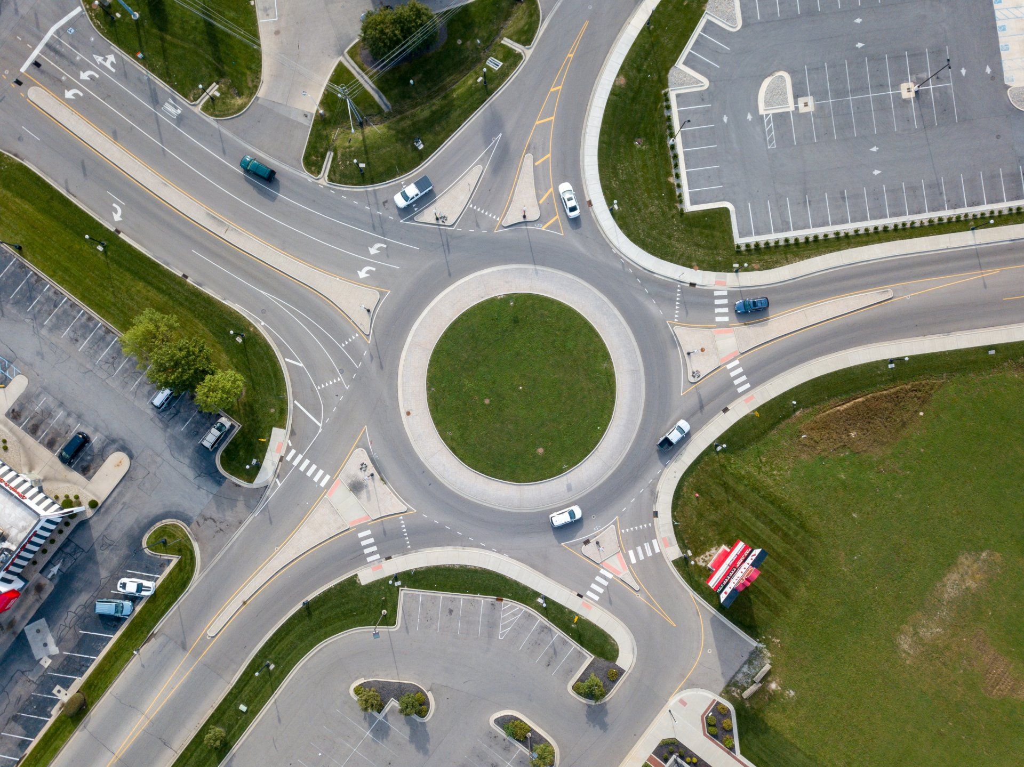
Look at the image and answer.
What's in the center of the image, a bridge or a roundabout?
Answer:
roundabout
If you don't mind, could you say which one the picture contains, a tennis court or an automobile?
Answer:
automobile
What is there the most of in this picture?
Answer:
paved ground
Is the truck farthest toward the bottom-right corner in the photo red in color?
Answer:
No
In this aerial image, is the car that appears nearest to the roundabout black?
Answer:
No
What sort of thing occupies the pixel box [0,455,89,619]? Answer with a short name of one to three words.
building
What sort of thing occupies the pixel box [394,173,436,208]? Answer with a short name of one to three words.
truck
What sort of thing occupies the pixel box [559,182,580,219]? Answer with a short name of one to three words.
car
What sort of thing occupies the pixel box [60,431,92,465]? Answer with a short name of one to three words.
car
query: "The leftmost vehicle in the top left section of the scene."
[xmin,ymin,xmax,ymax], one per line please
[241,157,278,183]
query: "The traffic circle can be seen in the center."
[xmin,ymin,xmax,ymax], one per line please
[398,264,645,512]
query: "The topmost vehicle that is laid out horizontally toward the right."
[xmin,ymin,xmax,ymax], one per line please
[733,297,769,314]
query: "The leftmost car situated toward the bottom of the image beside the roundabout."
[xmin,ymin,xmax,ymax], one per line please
[548,505,582,528]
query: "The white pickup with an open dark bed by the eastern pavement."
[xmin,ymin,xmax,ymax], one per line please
[653,418,691,455]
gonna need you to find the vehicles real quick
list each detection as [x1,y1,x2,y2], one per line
[96,599,134,617]
[653,418,691,455]
[548,505,582,528]
[148,382,175,410]
[394,173,436,208]
[118,577,156,596]
[559,182,580,219]
[60,431,92,465]
[201,417,232,451]
[733,297,769,314]
[241,157,278,183]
